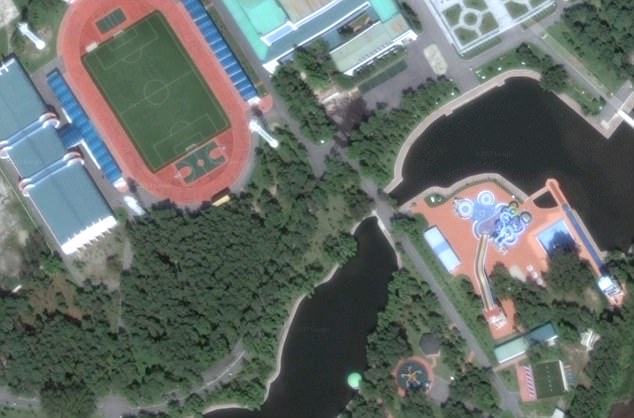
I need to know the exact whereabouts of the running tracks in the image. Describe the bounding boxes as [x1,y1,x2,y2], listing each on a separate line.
[55,0,256,209]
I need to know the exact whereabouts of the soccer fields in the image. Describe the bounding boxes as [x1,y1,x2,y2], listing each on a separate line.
[80,9,231,173]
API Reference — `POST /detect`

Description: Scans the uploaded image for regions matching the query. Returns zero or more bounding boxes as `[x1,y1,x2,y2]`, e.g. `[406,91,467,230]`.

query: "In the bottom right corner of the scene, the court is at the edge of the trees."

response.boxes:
[534,360,567,399]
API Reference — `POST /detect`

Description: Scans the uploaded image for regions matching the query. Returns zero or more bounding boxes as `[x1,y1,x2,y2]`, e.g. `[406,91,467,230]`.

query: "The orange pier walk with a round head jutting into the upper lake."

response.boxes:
[527,175,570,207]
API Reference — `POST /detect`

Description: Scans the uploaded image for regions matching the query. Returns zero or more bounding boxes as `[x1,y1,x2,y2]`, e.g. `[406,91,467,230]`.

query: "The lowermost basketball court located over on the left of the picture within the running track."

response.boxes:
[175,141,225,183]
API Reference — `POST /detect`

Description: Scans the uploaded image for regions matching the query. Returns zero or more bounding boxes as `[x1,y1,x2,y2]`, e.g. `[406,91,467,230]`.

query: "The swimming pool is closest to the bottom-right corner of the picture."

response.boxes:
[537,220,575,256]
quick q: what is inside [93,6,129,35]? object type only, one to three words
sports court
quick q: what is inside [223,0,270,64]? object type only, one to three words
building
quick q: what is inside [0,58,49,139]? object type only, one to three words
building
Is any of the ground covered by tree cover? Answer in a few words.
Yes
